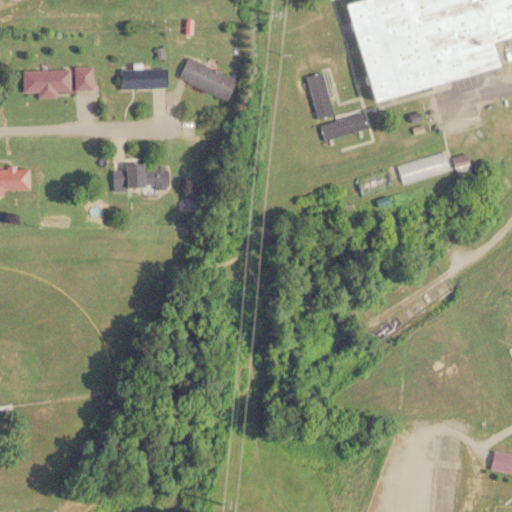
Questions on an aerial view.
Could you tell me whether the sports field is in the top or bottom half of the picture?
bottom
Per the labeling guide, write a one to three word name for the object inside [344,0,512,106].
building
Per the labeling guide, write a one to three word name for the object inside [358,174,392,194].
greenhouse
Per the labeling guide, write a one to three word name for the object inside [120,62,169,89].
house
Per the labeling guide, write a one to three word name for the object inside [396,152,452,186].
shed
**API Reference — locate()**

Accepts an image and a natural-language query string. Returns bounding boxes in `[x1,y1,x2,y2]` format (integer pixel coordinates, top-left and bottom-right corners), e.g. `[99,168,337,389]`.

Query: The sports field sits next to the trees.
[0,264,114,411]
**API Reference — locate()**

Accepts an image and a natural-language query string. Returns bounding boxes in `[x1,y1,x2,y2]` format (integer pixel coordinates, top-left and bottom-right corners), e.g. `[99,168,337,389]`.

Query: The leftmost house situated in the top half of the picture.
[0,165,31,198]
